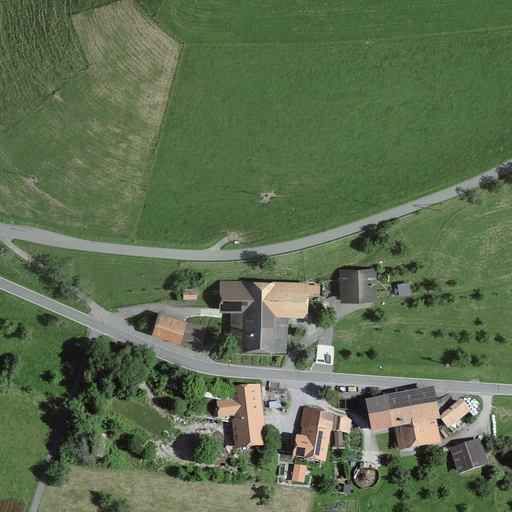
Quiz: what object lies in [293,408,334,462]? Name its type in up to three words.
house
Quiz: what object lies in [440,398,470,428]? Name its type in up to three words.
barn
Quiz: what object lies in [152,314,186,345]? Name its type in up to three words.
shed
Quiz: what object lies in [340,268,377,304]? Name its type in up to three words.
house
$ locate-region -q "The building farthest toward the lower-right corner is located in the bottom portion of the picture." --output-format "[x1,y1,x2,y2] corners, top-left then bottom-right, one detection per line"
[450,439,488,474]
